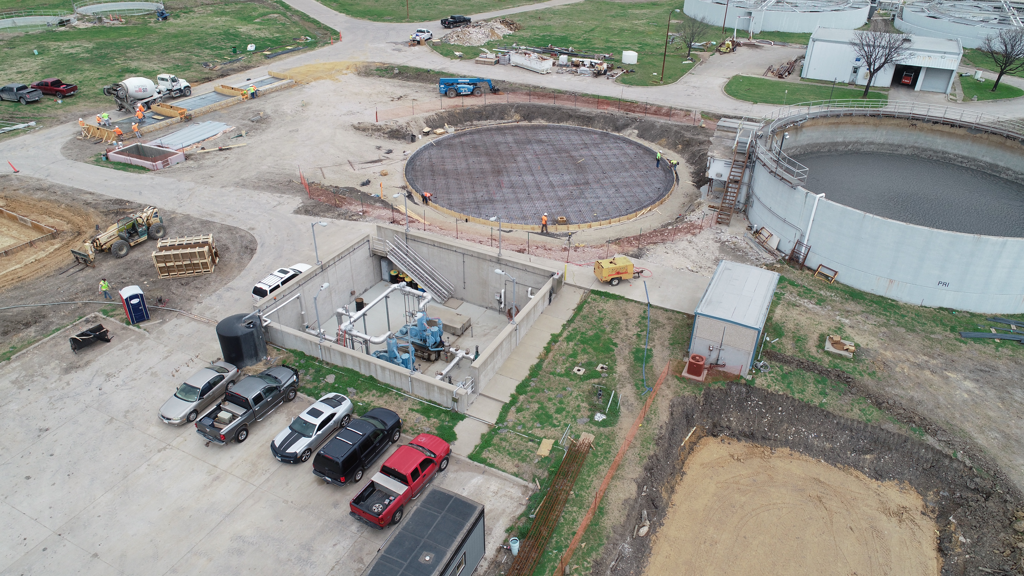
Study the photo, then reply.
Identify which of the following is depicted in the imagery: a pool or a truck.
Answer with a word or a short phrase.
truck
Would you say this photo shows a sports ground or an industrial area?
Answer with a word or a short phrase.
industrial area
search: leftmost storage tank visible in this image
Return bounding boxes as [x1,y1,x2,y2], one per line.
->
[213,304,273,369]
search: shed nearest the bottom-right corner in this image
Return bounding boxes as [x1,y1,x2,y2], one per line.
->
[689,265,779,372]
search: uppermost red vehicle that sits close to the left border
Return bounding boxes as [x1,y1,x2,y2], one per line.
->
[32,80,77,98]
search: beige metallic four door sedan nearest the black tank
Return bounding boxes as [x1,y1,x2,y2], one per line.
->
[151,360,243,431]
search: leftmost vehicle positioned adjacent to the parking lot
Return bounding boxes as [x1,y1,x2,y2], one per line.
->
[69,204,164,274]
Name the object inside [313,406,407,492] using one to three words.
car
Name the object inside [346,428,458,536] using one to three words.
truck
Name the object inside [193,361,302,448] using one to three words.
truck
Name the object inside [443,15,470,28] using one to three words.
vehicle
